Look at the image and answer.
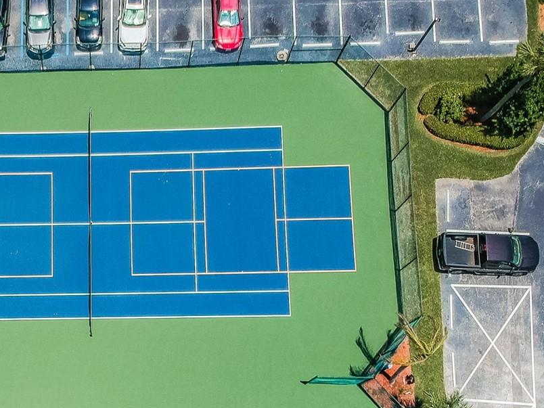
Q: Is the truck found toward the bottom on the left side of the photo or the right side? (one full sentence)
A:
The truck found toward the bottom appears in the right half of the scene.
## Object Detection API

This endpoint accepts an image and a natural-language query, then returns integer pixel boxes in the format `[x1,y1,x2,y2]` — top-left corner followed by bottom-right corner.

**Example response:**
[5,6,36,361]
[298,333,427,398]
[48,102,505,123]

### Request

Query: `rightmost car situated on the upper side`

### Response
[210,0,248,53]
